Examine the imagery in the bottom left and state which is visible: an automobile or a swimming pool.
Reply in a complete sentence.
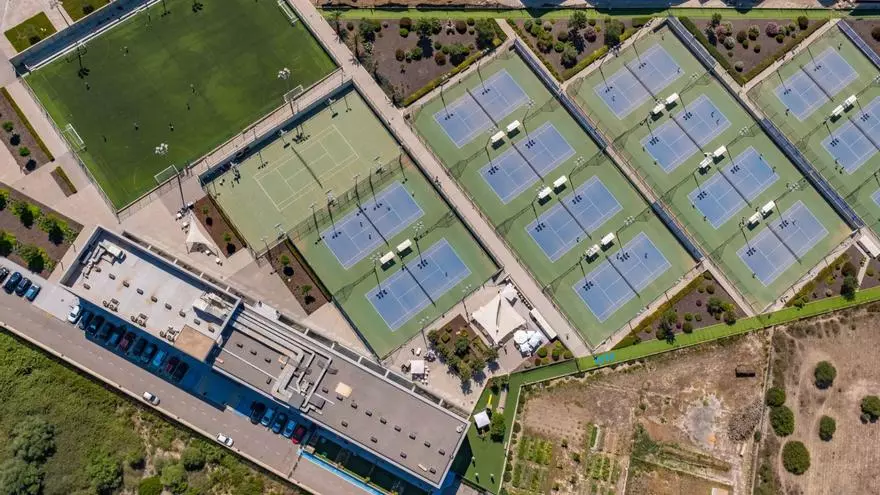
There is an automobile in the bottom left.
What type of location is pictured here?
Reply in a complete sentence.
This image shows a sports ground.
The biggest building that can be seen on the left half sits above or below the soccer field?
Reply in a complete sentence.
Within the scene, the biggest building that can be seen on the left half can be found below the soccer field.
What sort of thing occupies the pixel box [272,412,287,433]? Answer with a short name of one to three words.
car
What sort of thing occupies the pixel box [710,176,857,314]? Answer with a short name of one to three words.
tennis court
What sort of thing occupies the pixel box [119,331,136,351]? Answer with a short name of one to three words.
car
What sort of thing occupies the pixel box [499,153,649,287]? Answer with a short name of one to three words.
tennis court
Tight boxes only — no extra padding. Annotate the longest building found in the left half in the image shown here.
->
[58,224,470,487]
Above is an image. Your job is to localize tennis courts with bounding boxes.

[406,46,555,171]
[453,99,601,229]
[334,212,498,358]
[614,71,757,197]
[662,123,805,254]
[567,21,710,142]
[206,88,408,255]
[499,153,649,287]
[750,21,880,142]
[798,77,880,196]
[290,156,453,297]
[547,208,699,351]
[710,176,857,314]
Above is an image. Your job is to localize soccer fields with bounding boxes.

[26,0,339,211]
